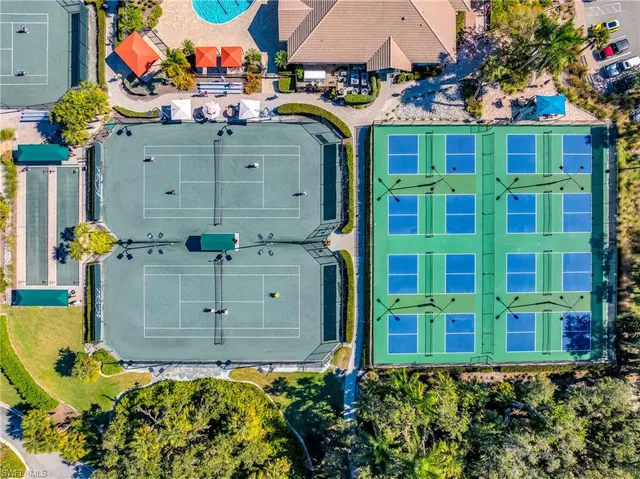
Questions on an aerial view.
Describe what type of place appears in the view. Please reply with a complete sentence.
This image shows a sports ground.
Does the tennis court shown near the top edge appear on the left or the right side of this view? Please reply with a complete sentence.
The tennis court shown near the top edge is on the left side of the image.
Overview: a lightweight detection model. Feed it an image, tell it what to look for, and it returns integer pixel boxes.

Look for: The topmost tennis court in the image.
[0,0,88,108]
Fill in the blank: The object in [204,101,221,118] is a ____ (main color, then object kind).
white umbrella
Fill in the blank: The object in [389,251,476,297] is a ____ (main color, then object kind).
blue sports court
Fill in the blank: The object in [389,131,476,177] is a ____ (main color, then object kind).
blue sports court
